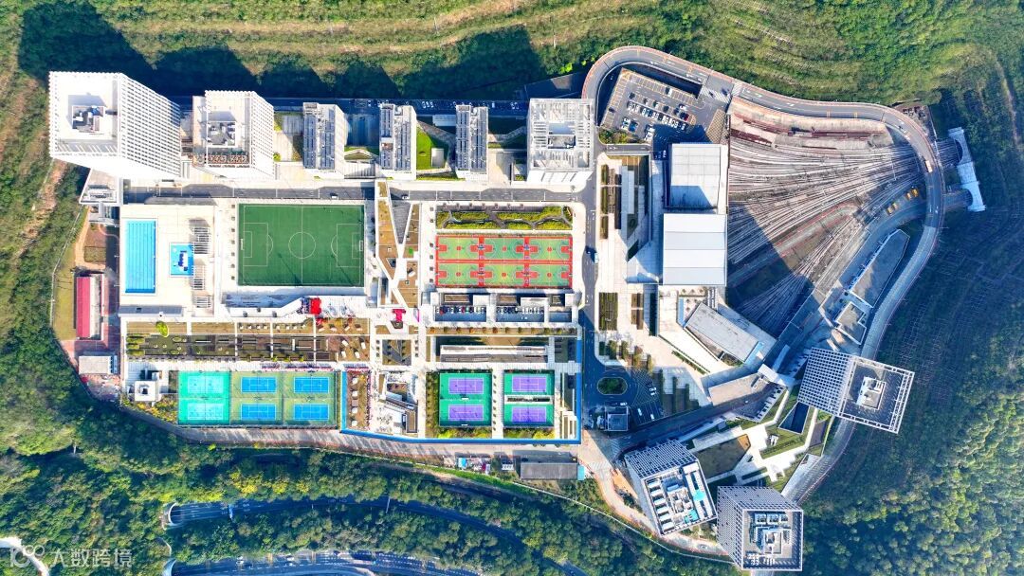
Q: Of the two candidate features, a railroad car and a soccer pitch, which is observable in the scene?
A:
soccer pitch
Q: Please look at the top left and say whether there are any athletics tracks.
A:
No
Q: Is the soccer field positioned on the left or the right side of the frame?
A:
left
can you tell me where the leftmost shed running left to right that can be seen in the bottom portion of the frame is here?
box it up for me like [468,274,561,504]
[79,356,118,375]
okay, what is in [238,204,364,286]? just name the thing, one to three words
soccer field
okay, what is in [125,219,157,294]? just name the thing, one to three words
swimming pool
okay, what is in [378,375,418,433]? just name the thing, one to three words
building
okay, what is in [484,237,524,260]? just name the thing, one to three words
basketball court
